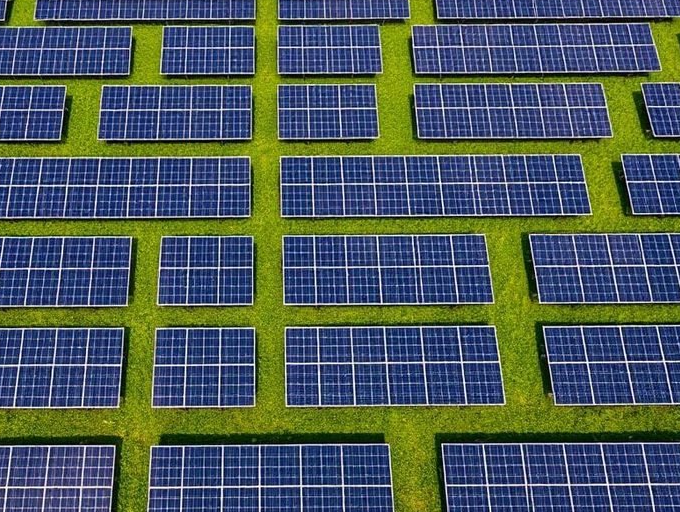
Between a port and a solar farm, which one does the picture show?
solar farm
